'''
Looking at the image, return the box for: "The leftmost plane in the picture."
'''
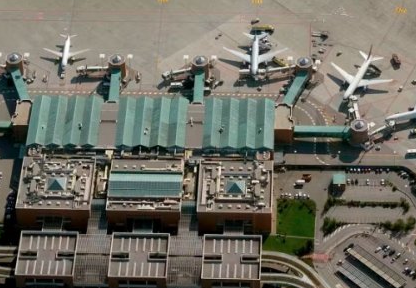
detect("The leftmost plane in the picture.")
[42,31,89,78]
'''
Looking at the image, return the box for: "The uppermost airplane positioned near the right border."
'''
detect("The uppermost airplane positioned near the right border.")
[333,46,395,98]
